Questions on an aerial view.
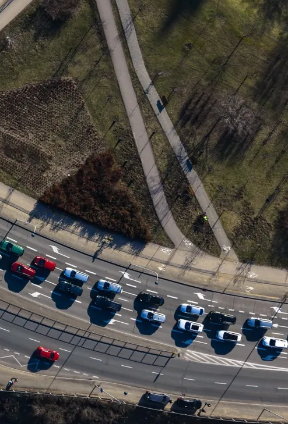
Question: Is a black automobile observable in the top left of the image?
No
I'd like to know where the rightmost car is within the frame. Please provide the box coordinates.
[262,335,288,350]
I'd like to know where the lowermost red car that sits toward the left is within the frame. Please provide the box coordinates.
[34,347,59,361]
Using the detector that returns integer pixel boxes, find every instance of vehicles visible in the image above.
[32,255,57,273]
[246,315,273,330]
[57,278,84,297]
[0,238,25,258]
[207,310,238,326]
[176,317,205,334]
[176,397,201,411]
[10,260,36,280]
[145,391,171,406]
[262,335,288,350]
[215,329,242,343]
[96,278,123,294]
[34,347,59,361]
[93,294,122,314]
[179,302,205,317]
[140,308,167,325]
[63,266,90,284]
[137,292,164,307]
